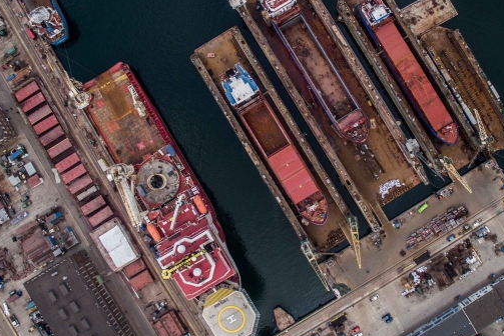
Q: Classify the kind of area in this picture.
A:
port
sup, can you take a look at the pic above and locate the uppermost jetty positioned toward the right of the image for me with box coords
[401,0,458,39]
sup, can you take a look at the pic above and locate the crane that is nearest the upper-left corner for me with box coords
[62,69,88,106]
